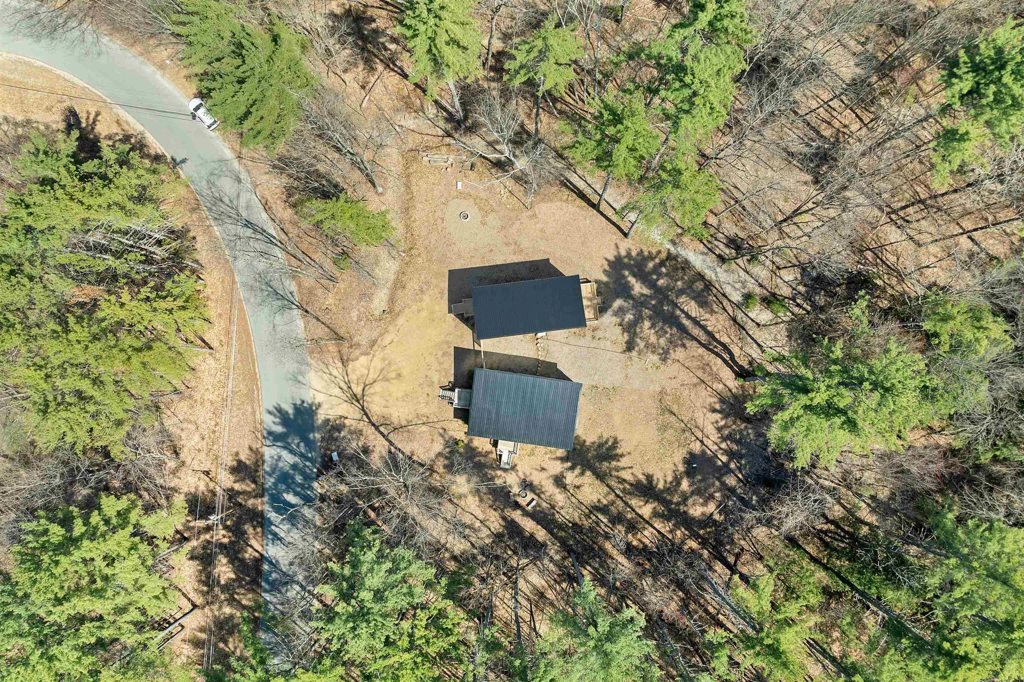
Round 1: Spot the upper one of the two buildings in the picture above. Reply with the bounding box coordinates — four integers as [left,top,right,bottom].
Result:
[452,274,605,340]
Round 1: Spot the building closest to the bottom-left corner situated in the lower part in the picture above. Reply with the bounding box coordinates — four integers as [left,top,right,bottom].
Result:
[437,368,582,472]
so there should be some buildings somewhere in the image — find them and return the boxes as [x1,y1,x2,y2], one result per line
[437,368,582,472]
[452,274,605,340]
